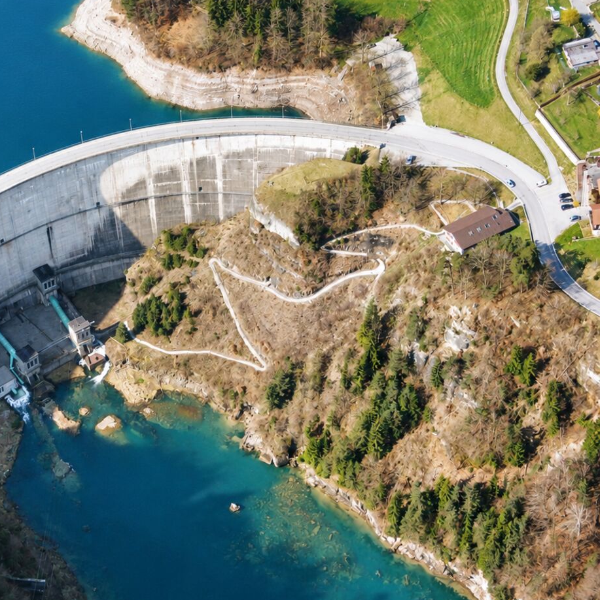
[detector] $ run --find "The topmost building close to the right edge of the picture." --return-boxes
[559,35,600,79]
